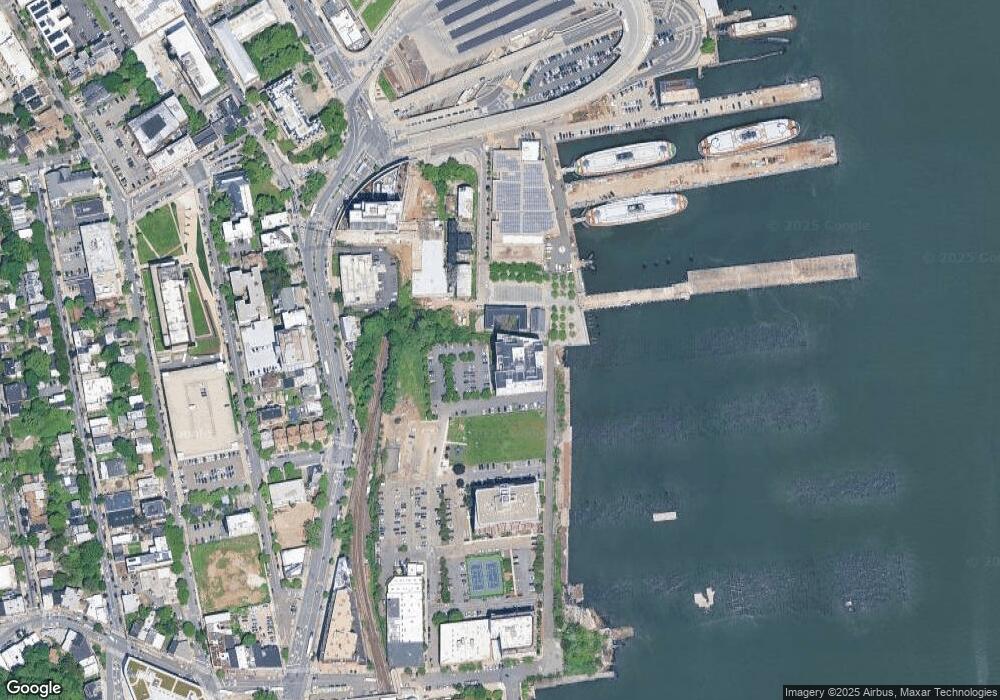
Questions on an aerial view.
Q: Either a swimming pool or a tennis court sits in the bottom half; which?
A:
tennis court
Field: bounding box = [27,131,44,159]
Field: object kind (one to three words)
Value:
house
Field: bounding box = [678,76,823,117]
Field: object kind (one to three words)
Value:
pier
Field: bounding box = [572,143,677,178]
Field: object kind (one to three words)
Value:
ship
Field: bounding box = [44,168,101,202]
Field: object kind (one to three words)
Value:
building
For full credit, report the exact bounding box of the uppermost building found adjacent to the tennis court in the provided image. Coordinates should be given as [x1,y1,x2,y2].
[474,482,538,535]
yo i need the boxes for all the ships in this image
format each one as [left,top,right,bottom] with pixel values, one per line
[653,513,677,522]
[572,143,677,178]
[697,124,801,160]
[729,15,798,40]
[583,195,689,232]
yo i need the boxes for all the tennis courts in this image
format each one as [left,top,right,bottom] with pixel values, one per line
[466,555,503,597]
